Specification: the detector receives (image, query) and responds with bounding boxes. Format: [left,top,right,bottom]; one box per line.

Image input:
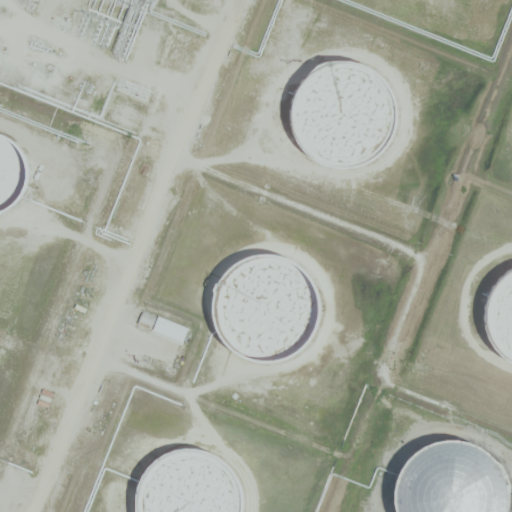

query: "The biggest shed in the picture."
[154,316,188,343]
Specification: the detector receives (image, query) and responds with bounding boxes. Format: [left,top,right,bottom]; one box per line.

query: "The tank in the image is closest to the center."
[211,254,320,362]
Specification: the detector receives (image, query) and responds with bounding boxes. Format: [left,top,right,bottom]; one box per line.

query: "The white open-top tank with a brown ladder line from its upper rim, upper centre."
[292,61,398,168]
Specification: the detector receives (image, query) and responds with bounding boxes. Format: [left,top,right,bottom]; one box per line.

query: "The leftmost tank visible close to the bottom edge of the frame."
[136,447,244,512]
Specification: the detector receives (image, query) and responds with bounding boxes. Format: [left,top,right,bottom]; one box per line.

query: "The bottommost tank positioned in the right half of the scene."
[394,439,510,512]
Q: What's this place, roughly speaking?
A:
industrial area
